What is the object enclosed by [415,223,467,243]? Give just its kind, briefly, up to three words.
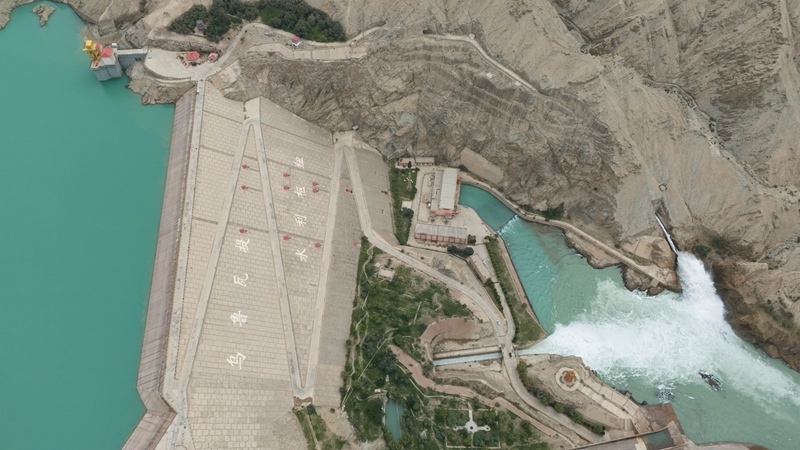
building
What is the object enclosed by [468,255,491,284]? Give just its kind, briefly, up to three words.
building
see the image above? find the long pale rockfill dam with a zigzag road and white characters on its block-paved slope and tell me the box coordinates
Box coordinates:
[123,80,398,450]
